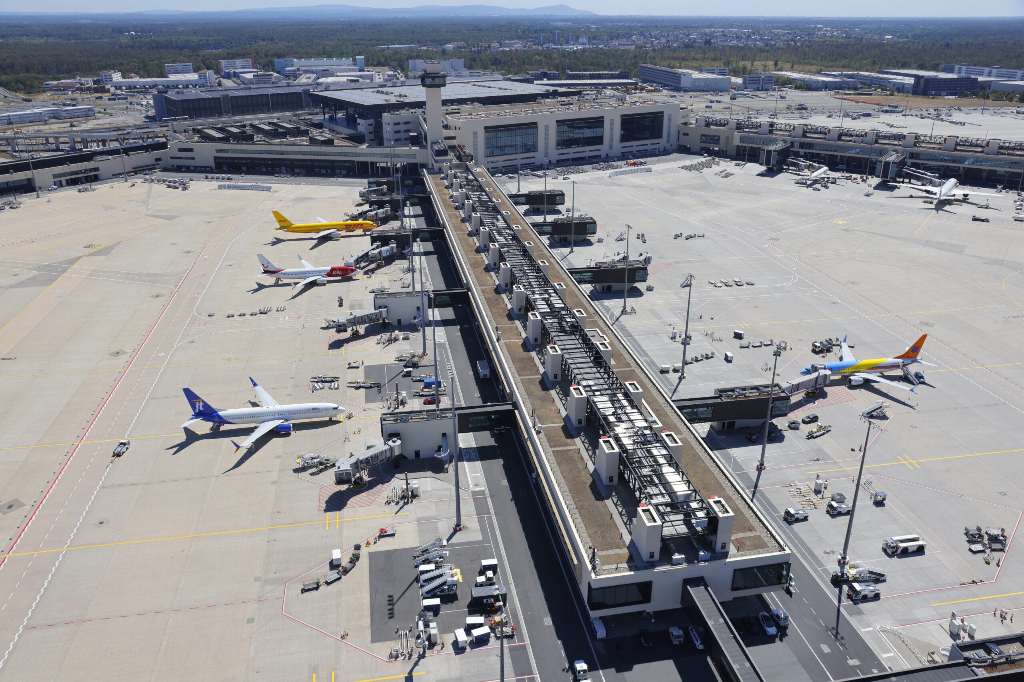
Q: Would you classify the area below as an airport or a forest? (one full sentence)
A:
The picture captures an airport.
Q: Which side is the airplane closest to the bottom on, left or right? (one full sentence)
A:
The airplane closest to the bottom appears in the left half of the scene.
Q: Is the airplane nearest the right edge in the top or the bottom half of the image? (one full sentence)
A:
It is in the top half that the airplane nearest the right edge appears.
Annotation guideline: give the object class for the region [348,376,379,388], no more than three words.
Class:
vehicle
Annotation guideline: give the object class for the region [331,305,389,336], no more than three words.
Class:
jet bridge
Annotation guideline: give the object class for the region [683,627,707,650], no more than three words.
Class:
car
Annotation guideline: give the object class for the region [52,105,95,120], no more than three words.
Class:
building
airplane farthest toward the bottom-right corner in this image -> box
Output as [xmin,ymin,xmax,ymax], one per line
[799,333,937,396]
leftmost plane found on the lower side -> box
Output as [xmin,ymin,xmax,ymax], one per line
[182,375,346,454]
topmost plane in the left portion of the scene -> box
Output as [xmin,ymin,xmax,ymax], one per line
[277,208,377,237]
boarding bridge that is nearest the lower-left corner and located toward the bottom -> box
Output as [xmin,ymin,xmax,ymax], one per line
[330,435,403,494]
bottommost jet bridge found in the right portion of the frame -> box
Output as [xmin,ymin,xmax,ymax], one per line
[790,365,830,402]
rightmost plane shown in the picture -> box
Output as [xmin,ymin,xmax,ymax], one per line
[891,178,1013,201]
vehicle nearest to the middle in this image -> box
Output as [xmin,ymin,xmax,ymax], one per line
[476,359,490,376]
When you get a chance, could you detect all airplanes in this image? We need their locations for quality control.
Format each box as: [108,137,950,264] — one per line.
[182,375,346,454]
[790,166,849,181]
[259,252,362,284]
[799,333,937,396]
[277,208,377,237]
[891,178,1013,201]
